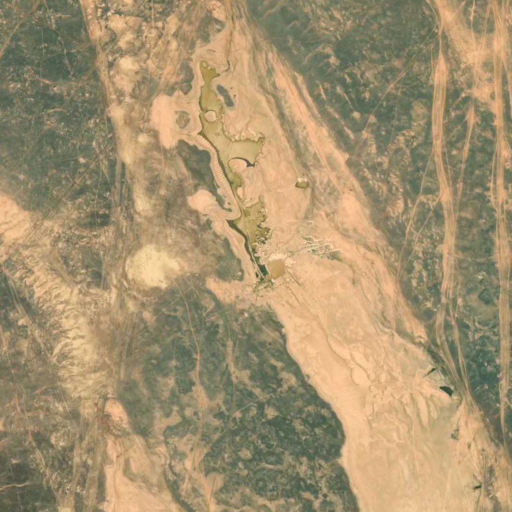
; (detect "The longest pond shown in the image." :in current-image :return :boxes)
[199,61,264,199]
